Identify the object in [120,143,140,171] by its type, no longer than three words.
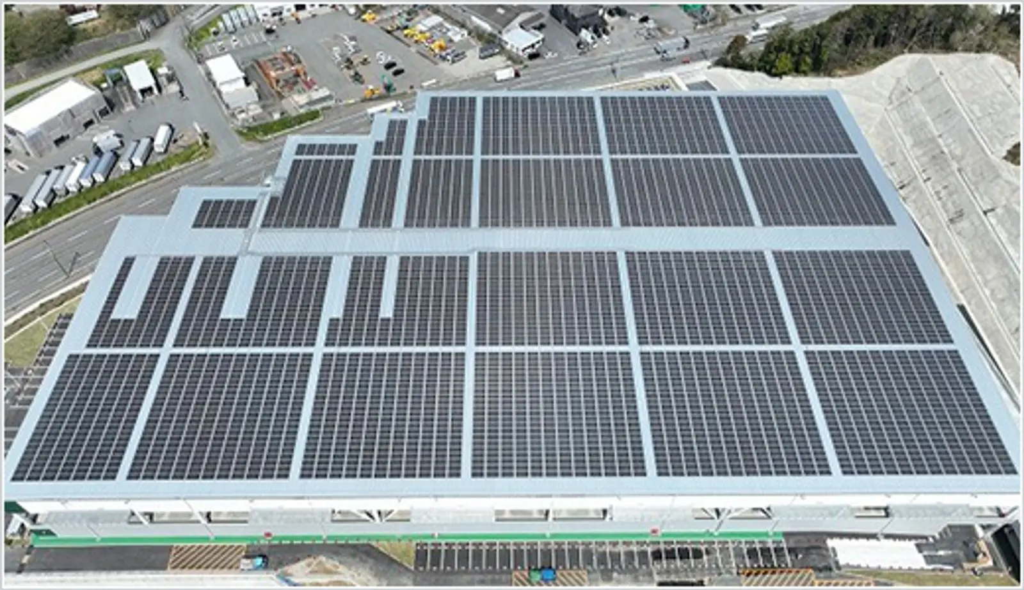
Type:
vehicle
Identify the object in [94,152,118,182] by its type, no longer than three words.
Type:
truck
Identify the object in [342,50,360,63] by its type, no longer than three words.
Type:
vehicle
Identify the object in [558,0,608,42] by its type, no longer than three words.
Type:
house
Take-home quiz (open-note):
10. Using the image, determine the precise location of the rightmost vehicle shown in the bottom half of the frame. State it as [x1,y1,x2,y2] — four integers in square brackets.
[530,568,556,583]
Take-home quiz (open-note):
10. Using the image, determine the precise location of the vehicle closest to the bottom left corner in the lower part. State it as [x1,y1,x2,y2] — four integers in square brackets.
[239,555,267,570]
